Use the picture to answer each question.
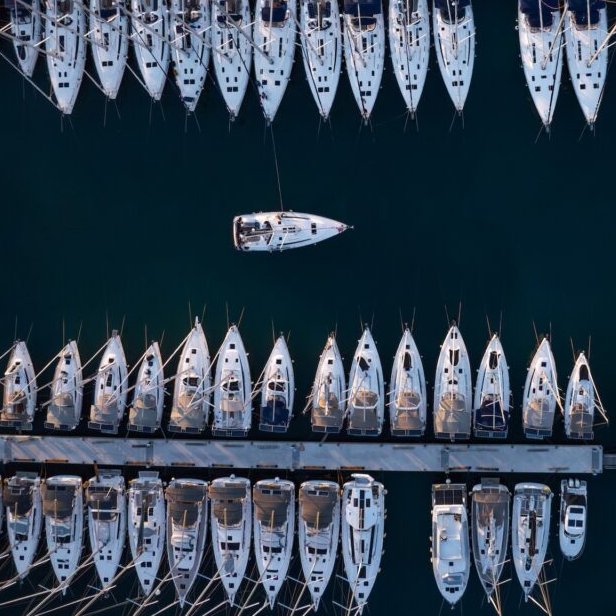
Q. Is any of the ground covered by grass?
No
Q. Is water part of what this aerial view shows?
Yes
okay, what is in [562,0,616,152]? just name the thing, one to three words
boat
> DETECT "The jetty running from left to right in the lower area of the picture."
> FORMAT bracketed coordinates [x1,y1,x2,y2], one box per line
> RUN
[0,433,603,472]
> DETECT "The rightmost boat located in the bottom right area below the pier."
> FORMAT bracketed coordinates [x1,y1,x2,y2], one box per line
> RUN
[556,479,588,574]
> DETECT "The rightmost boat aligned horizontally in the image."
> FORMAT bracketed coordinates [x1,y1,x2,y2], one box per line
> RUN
[231,211,352,252]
